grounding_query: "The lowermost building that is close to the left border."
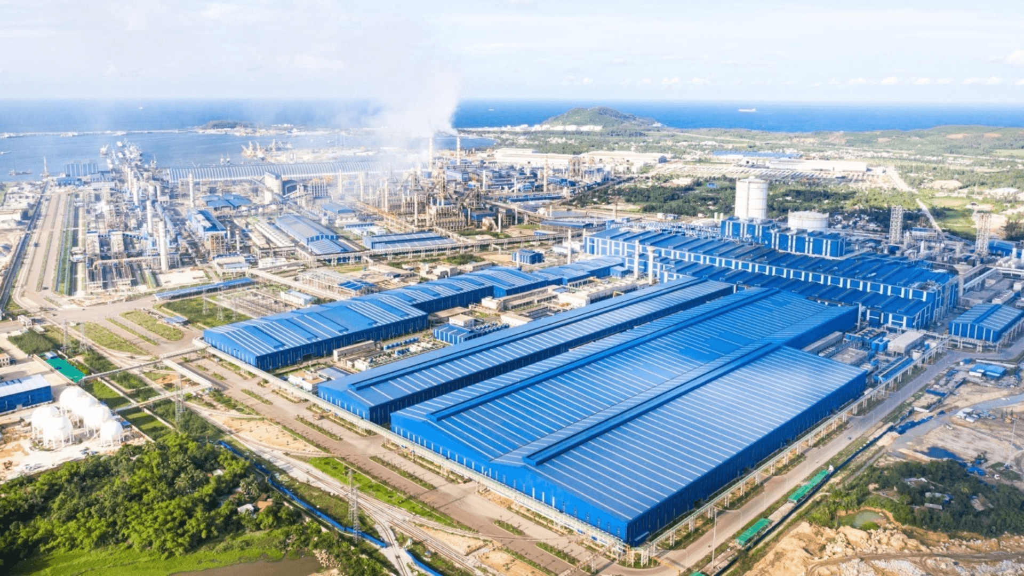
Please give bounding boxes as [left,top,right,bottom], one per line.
[0,375,53,414]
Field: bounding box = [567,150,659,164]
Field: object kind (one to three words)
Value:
building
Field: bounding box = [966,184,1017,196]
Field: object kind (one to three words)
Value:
building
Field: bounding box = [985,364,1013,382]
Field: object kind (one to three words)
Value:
shed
